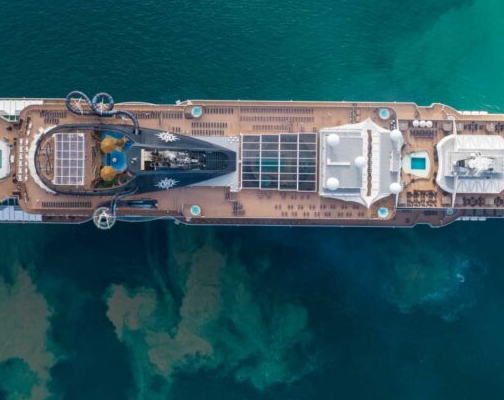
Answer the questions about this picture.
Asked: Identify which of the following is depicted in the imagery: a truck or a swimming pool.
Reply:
swimming pool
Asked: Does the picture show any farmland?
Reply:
No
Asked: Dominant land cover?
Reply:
water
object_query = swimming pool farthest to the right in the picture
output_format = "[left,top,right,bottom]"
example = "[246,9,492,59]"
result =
[404,149,431,179]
